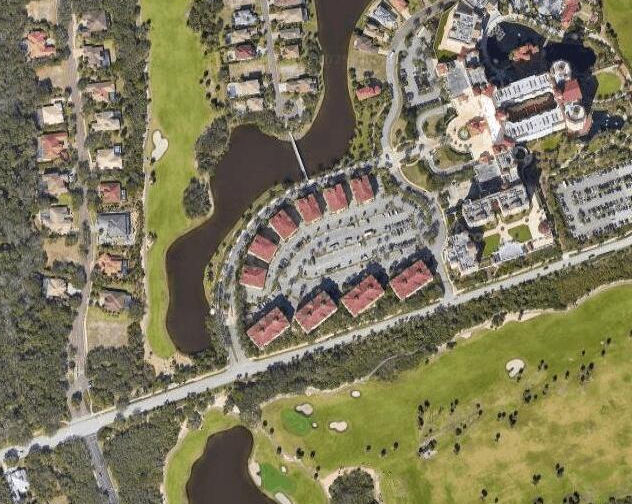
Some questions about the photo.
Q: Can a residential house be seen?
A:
Yes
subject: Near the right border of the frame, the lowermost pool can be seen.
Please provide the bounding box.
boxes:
[593,110,625,131]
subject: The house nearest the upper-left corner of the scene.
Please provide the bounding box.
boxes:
[25,31,55,59]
